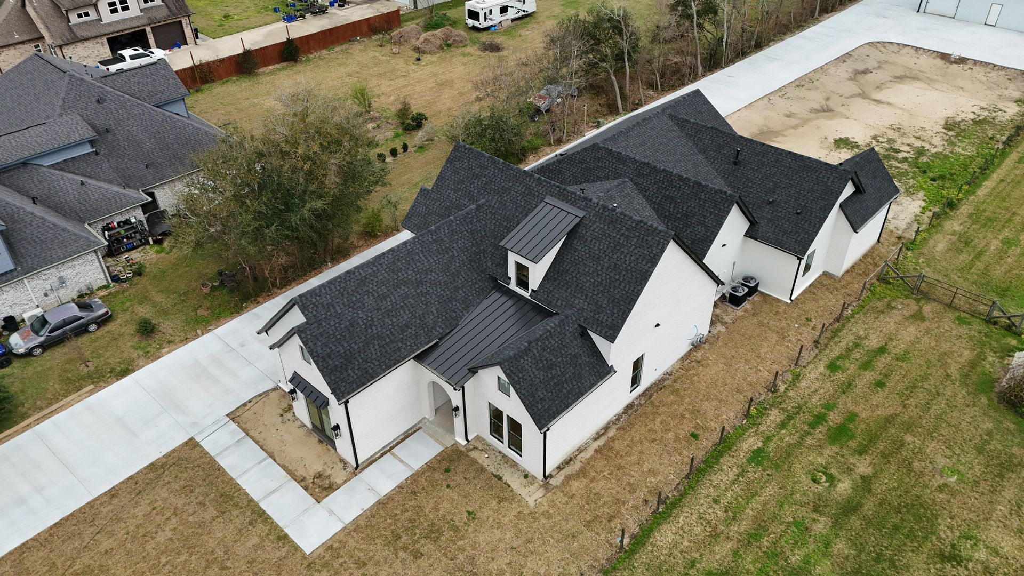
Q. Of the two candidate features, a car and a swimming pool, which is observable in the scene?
car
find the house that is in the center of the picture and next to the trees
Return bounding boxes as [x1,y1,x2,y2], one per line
[253,89,902,481]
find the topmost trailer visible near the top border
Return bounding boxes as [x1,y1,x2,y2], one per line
[466,0,538,30]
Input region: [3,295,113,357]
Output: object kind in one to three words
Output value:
car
